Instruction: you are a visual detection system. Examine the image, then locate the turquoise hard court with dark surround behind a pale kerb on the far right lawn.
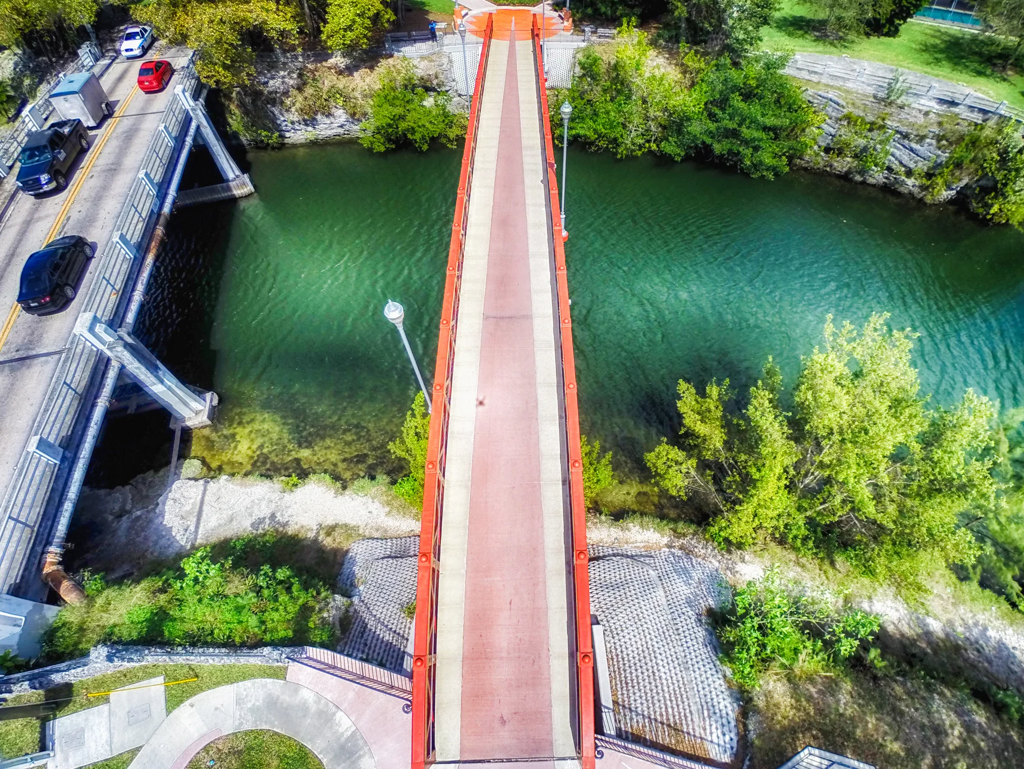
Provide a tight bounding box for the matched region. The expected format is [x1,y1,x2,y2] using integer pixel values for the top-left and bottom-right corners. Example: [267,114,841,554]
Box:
[906,0,998,51]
